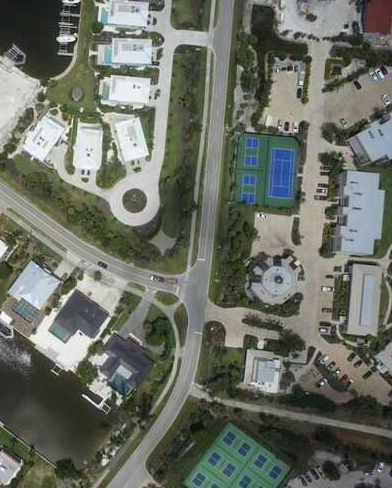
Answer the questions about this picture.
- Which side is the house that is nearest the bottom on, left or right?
left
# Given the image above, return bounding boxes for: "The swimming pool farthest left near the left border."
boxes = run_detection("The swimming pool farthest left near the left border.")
[15,300,35,321]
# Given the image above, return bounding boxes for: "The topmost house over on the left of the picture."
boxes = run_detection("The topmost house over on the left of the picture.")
[105,0,147,31]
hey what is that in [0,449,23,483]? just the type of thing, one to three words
house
